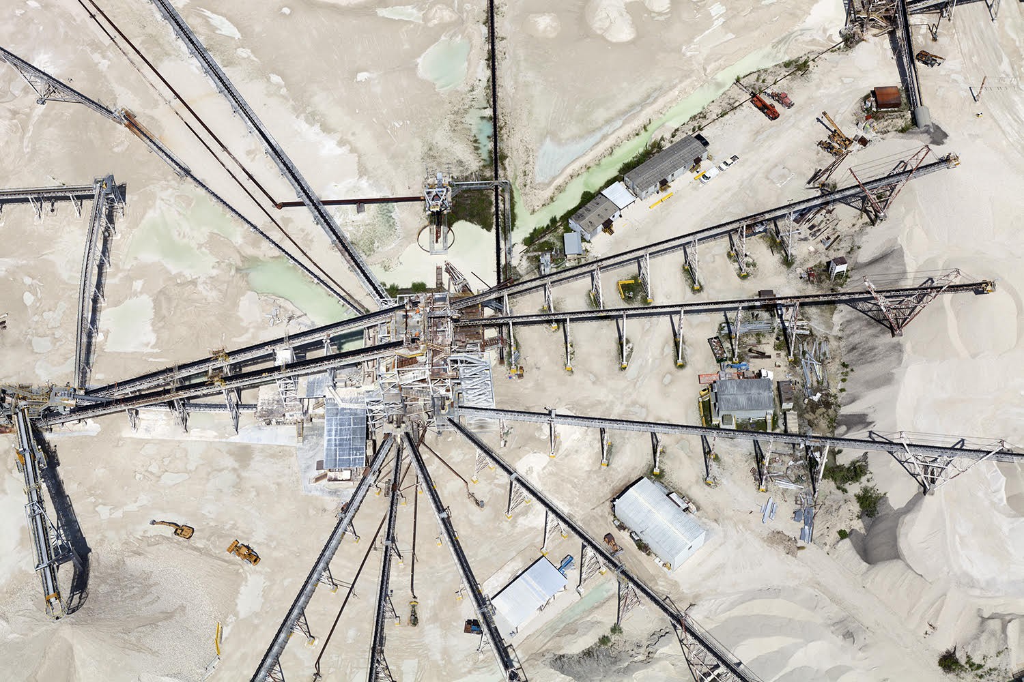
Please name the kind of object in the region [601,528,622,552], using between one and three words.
work vehicle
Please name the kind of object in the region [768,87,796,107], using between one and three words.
vehicle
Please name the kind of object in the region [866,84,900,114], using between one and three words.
shed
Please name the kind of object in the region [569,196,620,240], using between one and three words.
building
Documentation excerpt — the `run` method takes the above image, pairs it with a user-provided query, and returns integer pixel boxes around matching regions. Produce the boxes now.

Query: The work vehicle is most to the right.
[818,135,845,158]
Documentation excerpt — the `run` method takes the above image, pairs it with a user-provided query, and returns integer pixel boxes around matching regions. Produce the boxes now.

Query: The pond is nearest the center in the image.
[377,219,499,294]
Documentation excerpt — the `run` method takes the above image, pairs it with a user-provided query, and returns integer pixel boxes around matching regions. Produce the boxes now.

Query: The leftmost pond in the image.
[243,254,366,359]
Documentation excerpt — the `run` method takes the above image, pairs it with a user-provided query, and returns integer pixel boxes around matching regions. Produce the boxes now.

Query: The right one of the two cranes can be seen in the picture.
[821,109,858,149]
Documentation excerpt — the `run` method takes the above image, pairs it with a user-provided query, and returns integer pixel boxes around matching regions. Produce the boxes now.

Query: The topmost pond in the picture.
[415,38,475,99]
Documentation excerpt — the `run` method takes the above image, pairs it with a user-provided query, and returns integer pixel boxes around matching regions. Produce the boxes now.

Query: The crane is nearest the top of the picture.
[736,75,783,117]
